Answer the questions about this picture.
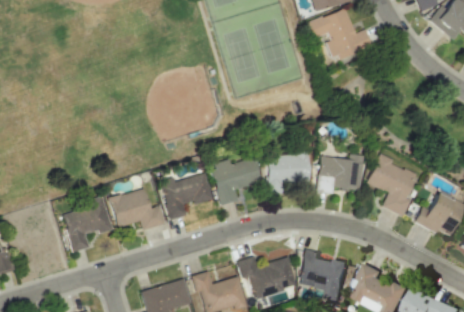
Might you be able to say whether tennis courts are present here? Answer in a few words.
Yes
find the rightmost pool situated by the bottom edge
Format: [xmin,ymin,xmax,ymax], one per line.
[299,284,326,298]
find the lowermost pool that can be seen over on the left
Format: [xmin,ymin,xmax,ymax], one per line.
[112,175,142,195]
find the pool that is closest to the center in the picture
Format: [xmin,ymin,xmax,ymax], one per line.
[168,164,203,180]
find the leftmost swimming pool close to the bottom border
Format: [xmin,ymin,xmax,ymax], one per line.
[261,284,295,308]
